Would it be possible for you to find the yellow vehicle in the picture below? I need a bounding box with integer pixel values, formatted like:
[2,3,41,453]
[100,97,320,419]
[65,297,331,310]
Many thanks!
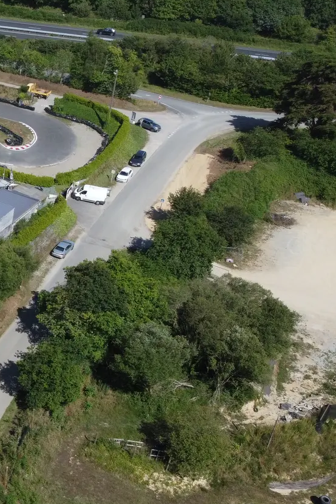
[25,82,54,98]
